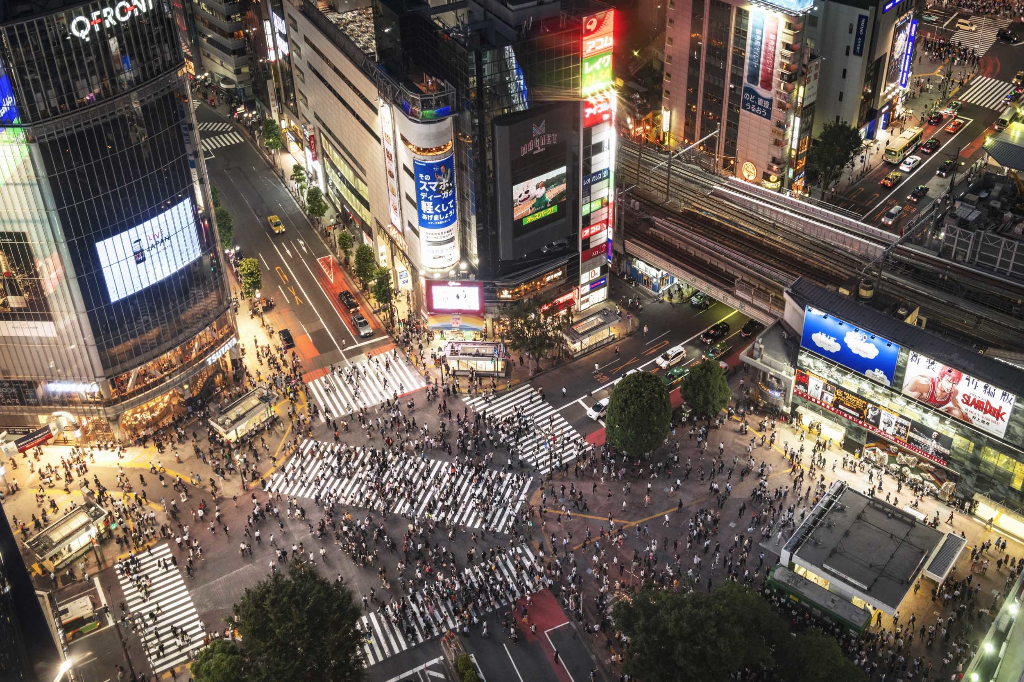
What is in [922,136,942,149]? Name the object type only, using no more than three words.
vehicle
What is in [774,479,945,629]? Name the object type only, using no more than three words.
building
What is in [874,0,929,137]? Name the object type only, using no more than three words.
building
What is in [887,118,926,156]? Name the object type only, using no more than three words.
bus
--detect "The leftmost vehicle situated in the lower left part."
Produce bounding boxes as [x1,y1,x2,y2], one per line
[60,599,101,641]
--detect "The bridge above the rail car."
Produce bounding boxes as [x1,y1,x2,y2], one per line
[608,135,1024,362]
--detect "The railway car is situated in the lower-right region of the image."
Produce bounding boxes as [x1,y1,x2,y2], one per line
[767,567,872,645]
